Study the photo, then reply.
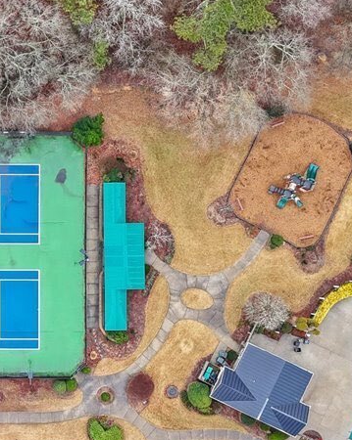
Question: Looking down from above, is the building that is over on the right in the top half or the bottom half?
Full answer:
The bottom half of the photo is where the building that is over on the right is.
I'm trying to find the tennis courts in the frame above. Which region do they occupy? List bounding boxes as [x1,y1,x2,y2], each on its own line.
[0,133,86,257]
[0,257,86,375]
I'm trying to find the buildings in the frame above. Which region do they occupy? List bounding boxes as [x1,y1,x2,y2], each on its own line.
[210,343,313,437]
[103,182,144,331]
